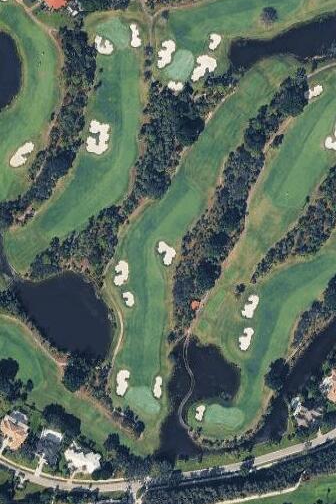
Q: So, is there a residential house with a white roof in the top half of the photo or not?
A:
No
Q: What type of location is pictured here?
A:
golf course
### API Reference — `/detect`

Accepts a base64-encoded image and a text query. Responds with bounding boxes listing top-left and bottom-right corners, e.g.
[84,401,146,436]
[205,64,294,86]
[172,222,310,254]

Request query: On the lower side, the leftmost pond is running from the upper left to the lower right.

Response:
[0,243,115,362]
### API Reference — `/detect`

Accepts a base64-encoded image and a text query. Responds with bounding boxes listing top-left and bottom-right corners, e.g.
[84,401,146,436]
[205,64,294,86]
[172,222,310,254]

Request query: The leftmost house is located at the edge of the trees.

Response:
[0,411,31,450]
